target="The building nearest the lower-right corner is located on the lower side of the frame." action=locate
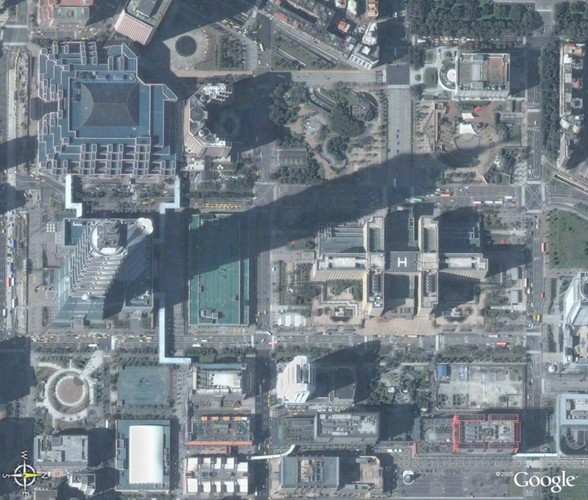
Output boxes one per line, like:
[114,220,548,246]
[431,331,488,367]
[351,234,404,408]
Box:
[549,394,588,460]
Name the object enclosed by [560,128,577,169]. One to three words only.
house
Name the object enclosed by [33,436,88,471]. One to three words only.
building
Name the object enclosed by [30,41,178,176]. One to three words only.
building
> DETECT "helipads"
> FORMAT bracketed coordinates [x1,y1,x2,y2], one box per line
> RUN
[386,253,418,270]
